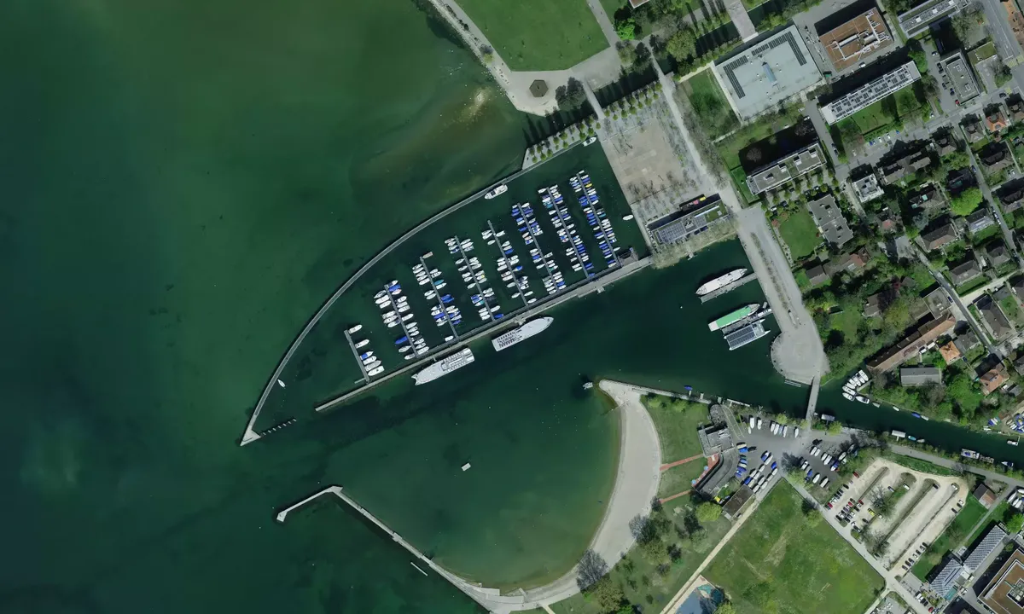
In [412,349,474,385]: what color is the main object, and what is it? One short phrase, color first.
white ship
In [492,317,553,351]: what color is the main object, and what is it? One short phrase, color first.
white ship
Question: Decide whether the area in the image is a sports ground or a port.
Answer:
port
